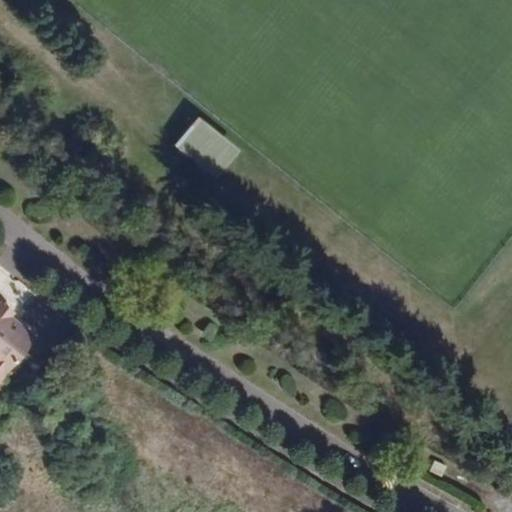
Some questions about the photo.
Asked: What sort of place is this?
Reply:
sports ground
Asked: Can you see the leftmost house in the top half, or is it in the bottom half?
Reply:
bottom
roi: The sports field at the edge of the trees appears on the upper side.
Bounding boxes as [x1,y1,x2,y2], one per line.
[76,0,512,308]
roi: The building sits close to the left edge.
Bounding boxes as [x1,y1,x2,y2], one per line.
[0,315,29,384]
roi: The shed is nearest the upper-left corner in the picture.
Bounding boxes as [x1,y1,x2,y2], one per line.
[174,117,240,181]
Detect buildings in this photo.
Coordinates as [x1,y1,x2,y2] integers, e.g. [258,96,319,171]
[429,459,446,476]
[174,117,240,181]
[0,315,29,384]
